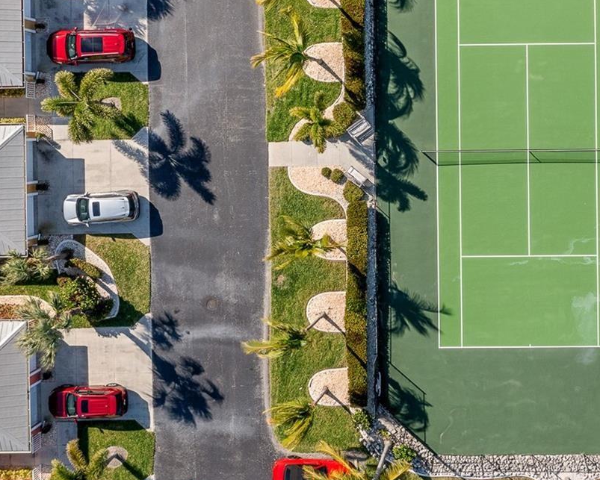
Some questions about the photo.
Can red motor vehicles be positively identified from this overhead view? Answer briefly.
Yes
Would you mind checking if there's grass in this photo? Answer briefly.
Yes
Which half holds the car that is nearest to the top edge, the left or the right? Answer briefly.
left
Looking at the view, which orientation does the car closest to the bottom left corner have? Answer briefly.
from side to side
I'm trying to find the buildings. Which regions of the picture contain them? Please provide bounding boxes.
[0,126,37,258]
[0,0,34,89]
[0,321,41,453]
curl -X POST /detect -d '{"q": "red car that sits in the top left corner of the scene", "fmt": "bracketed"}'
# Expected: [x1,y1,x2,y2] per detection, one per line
[49,26,135,65]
